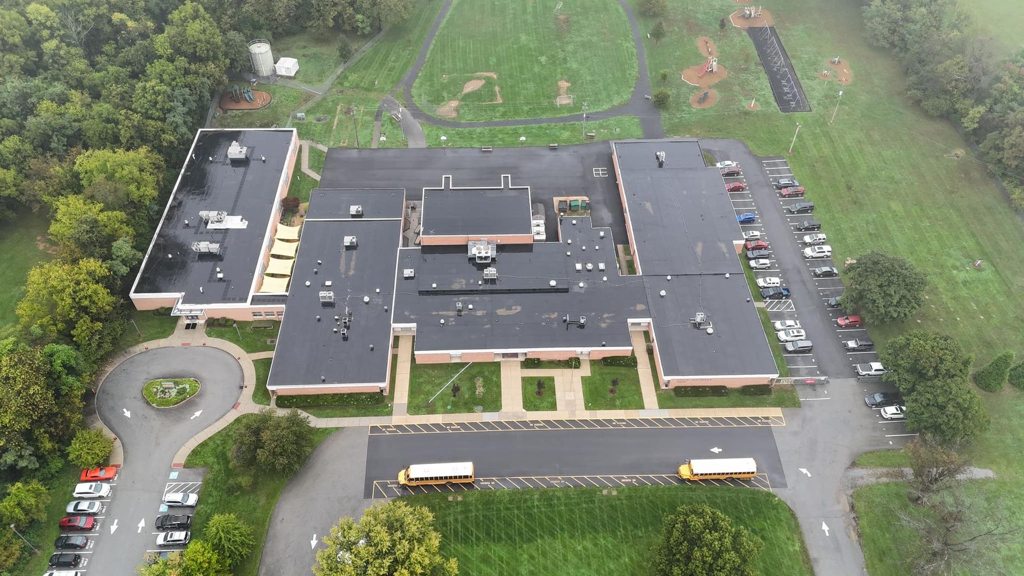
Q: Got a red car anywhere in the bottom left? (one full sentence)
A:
Yes, a red car appears in the bottom left.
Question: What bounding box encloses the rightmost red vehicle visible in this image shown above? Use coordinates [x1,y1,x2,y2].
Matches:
[835,314,864,328]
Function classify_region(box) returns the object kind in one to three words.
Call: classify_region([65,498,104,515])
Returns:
car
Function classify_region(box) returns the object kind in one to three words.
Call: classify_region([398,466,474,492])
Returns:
bus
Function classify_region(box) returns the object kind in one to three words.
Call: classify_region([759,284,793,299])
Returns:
vehicle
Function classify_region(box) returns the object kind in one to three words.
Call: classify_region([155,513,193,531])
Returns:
car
